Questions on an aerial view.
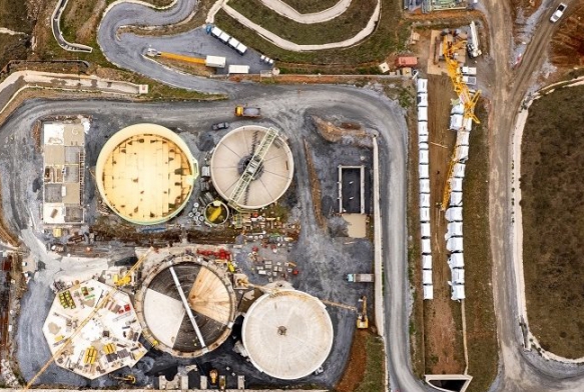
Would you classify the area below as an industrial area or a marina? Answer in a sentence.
What you see here is an industrial area.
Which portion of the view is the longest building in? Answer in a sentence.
The longest building is in the left part of the image.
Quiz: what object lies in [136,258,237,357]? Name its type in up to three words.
storage tank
